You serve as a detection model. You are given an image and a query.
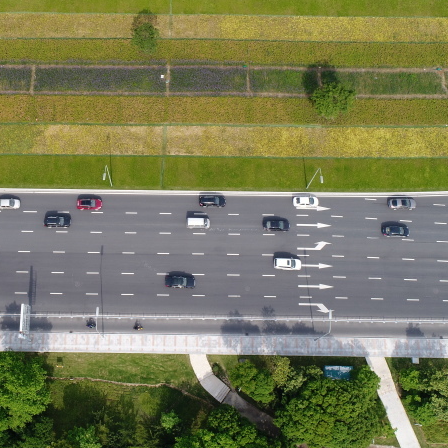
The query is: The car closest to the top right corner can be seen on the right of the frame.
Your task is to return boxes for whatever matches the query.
[389,197,416,210]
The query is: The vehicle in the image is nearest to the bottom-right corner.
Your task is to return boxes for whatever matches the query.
[381,224,409,237]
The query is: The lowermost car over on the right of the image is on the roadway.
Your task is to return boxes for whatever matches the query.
[274,257,302,271]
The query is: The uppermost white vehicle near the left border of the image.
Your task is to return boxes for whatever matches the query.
[0,197,19,209]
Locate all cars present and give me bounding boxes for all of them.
[381,224,409,237]
[43,214,70,227]
[198,195,225,207]
[293,196,320,209]
[389,197,416,210]
[77,197,101,210]
[263,218,290,231]
[0,197,19,209]
[166,275,194,288]
[274,257,302,271]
